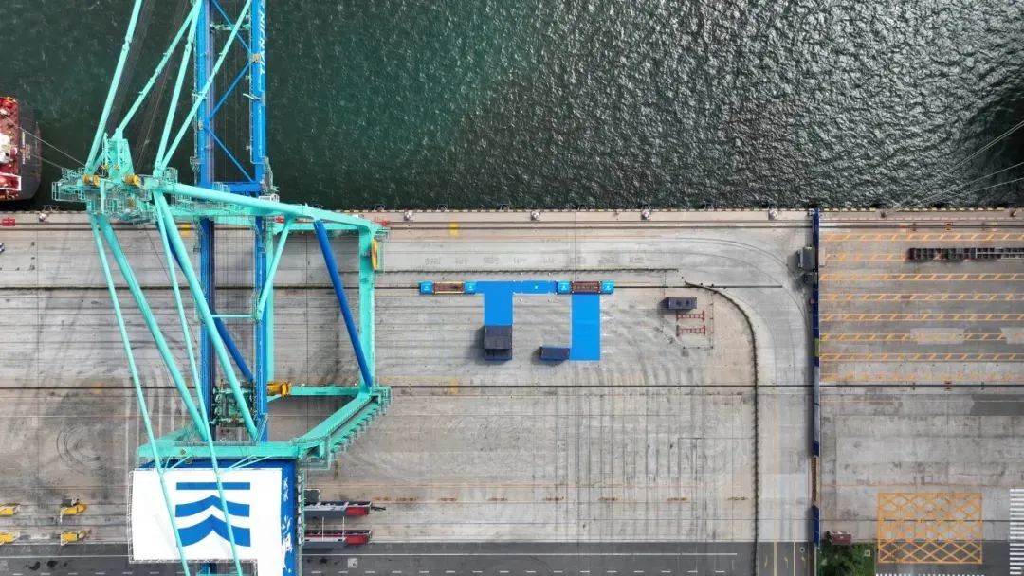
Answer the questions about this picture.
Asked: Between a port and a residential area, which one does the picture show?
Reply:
port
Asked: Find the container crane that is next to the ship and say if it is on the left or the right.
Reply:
left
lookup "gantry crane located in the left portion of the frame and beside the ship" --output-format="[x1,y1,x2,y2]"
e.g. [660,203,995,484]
[44,0,394,576]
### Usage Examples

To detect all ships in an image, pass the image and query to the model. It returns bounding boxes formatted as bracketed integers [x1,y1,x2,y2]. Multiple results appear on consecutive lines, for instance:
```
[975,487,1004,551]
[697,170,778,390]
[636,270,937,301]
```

[0,94,43,201]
